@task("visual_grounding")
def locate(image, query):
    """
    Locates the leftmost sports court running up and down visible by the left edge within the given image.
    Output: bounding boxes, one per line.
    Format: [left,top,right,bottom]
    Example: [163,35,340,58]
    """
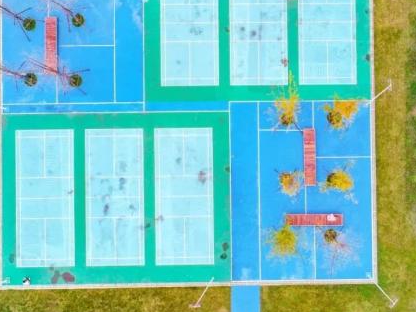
[15,130,74,267]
